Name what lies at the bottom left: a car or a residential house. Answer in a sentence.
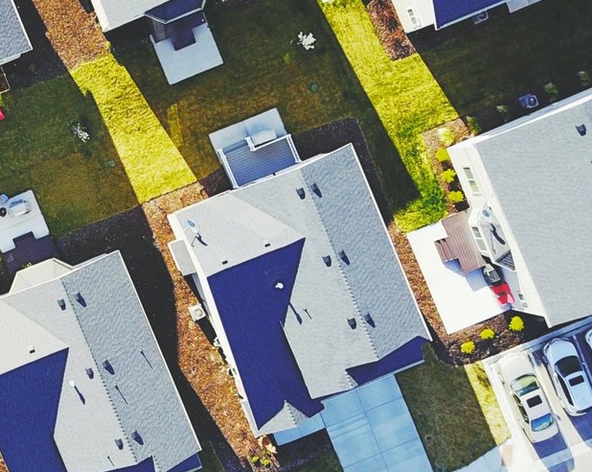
There is a residential house at the bottom left.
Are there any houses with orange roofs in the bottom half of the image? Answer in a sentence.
No, I can find no house with an orange roof in the bottom half of the image.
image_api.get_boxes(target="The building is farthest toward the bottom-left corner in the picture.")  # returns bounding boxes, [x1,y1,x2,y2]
[0,248,203,472]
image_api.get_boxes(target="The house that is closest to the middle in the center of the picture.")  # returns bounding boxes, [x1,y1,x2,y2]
[164,140,433,432]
